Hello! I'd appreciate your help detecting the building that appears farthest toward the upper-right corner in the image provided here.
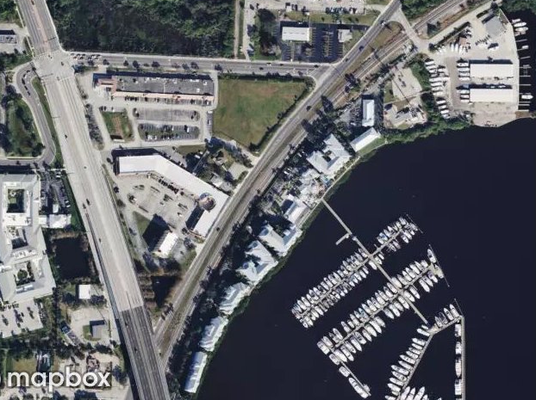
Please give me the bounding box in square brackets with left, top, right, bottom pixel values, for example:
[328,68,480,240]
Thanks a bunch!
[479,15,508,39]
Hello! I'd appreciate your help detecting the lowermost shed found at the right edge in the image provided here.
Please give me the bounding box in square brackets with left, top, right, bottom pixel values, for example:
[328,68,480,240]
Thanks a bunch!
[469,88,513,102]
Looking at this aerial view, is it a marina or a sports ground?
marina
